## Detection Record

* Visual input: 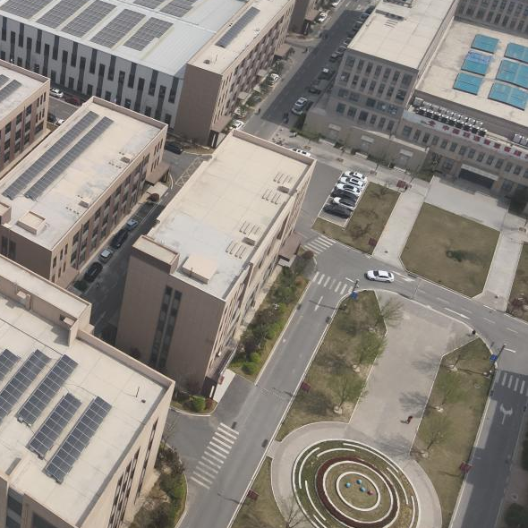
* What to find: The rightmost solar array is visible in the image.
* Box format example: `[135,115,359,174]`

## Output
[212,7,261,50]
